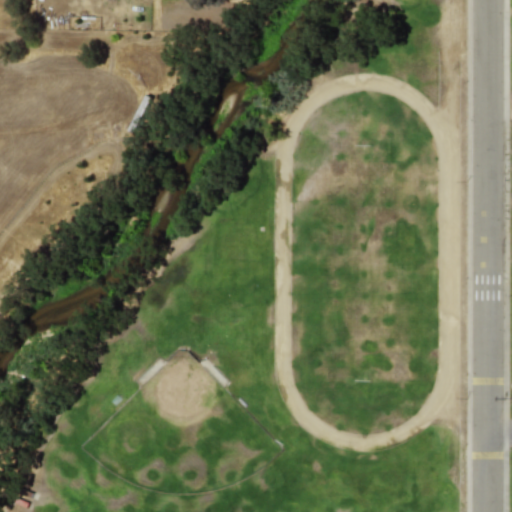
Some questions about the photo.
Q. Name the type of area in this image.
sports ground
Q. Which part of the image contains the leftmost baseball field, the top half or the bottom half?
bottom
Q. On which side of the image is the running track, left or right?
right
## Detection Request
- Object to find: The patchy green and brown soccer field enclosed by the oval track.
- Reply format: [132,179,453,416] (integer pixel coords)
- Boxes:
[292,91,438,436]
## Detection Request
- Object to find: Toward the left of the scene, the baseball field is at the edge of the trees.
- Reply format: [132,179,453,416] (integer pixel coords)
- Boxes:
[83,350,283,494]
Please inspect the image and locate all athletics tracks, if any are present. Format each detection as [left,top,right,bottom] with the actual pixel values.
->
[275,74,460,452]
